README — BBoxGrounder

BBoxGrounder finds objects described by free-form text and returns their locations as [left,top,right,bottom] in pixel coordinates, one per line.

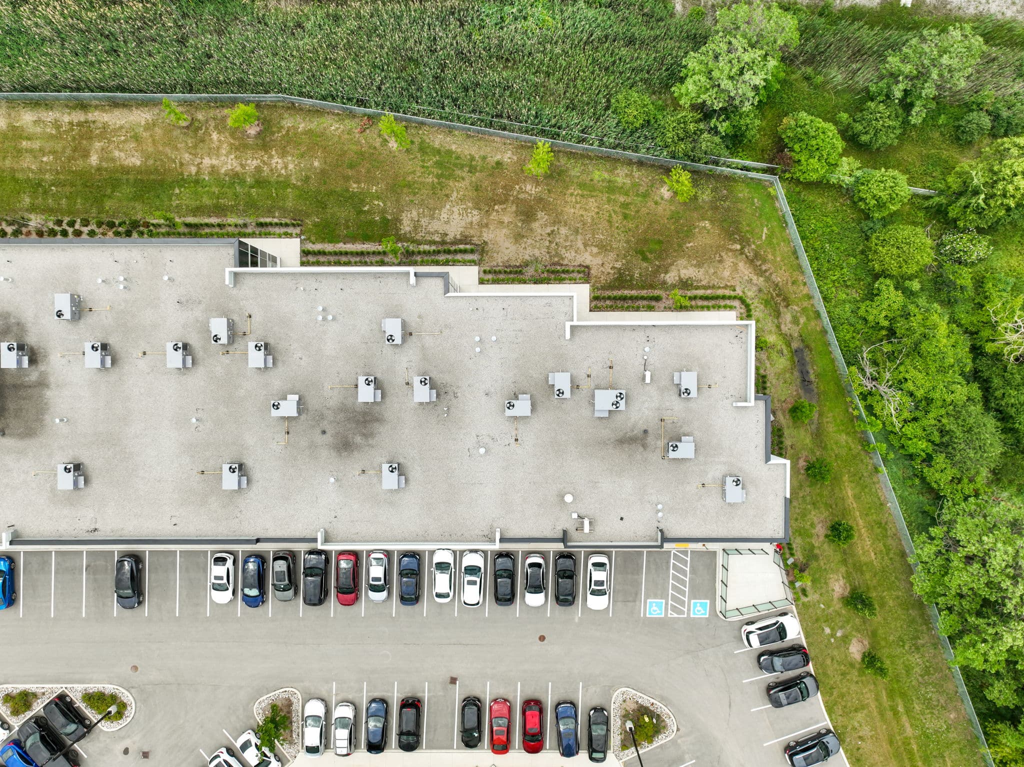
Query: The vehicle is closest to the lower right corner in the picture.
[785,730,841,767]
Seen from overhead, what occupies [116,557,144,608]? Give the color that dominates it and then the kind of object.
gray car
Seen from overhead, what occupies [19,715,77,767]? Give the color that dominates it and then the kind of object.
gray truck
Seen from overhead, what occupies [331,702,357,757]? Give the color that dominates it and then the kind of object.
white car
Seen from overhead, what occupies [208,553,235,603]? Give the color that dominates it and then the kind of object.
white car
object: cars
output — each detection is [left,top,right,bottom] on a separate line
[270,551,298,602]
[302,699,328,757]
[431,549,456,604]
[587,707,611,763]
[397,698,422,751]
[492,552,517,607]
[523,554,547,606]
[334,552,360,606]
[396,552,421,606]
[208,553,235,603]
[521,700,545,753]
[302,550,328,607]
[365,551,390,602]
[0,557,17,609]
[766,674,819,707]
[785,730,841,767]
[364,699,389,754]
[116,557,144,608]
[555,701,580,758]
[758,643,811,676]
[331,702,357,757]
[460,550,485,607]
[587,555,611,609]
[554,552,579,607]
[236,727,281,767]
[459,697,483,747]
[488,699,512,755]
[240,556,266,607]
[742,616,798,648]
[43,694,91,741]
